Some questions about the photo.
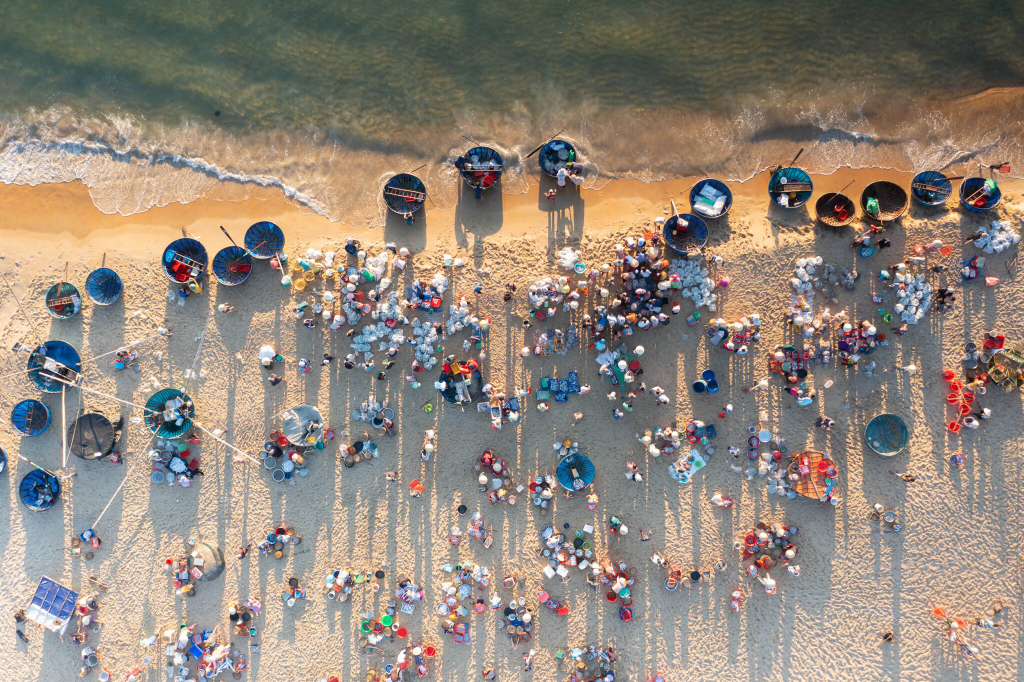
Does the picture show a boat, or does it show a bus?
boat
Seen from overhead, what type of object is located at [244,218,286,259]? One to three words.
boat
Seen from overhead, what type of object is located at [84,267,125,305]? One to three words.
boat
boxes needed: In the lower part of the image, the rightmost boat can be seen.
[862,410,909,457]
